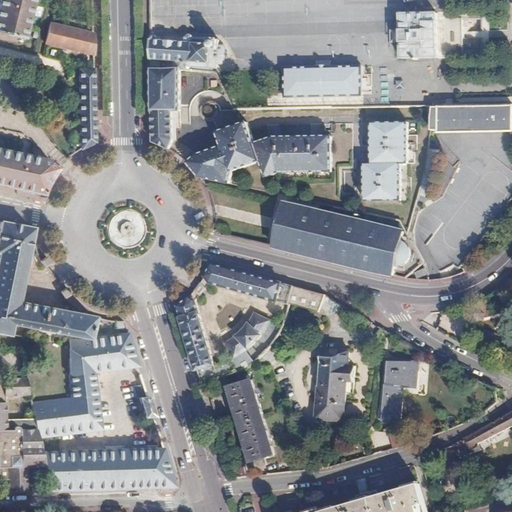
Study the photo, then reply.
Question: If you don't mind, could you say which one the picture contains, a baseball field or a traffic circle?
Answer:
traffic circle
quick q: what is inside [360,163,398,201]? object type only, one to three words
building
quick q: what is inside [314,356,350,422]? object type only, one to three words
house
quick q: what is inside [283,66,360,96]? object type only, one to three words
building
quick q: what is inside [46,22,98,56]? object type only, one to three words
barn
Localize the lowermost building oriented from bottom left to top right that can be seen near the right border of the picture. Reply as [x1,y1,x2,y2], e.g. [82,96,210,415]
[463,410,512,448]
